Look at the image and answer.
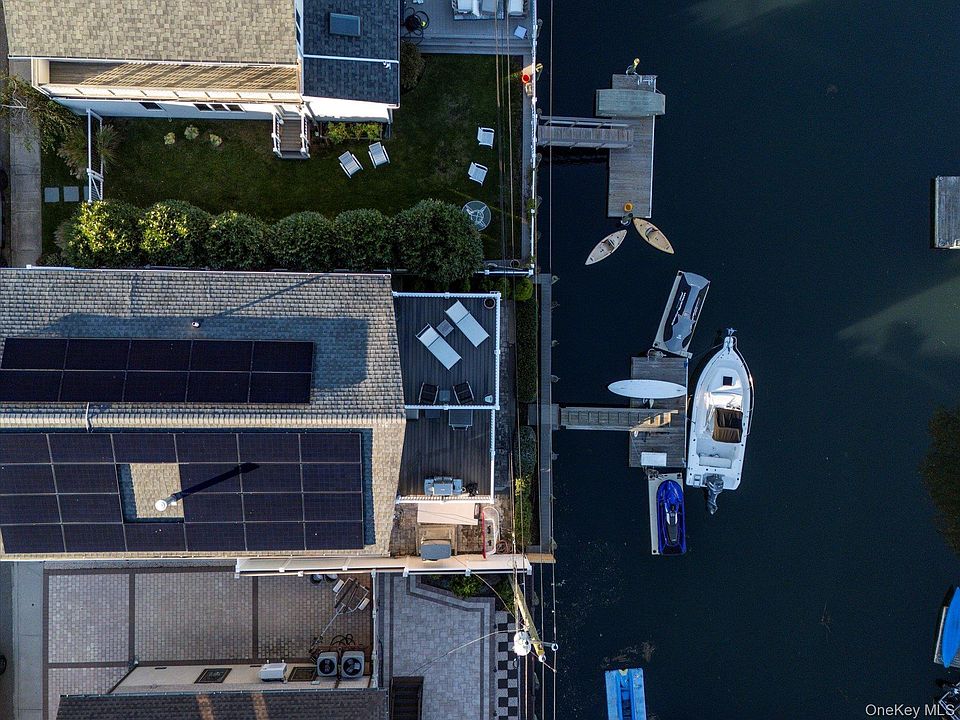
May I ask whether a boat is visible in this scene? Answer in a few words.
Yes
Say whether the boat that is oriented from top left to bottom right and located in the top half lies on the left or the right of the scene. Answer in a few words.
right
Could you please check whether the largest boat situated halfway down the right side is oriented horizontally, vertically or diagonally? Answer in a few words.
vertically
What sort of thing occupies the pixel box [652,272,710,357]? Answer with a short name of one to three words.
pier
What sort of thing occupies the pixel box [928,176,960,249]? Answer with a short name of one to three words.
pier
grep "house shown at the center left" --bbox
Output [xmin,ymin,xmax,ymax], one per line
[0,266,406,559]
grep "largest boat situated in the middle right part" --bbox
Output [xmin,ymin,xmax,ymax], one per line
[686,328,758,517]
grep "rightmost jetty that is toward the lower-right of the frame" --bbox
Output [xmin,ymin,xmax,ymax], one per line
[927,602,960,668]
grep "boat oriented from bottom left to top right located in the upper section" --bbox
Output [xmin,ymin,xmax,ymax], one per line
[586,231,628,265]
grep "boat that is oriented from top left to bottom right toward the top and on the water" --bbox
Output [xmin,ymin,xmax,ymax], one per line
[633,218,675,253]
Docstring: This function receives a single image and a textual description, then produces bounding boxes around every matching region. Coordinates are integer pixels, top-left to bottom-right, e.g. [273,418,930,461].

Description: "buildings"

[52,668,389,720]
[0,266,406,559]
[0,0,405,157]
